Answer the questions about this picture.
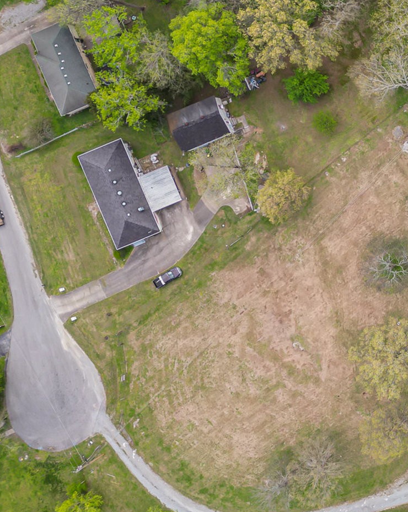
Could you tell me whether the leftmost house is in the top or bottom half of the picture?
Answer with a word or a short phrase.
top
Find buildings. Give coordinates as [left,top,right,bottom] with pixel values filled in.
[167,96,235,151]
[78,139,166,249]
[31,22,100,116]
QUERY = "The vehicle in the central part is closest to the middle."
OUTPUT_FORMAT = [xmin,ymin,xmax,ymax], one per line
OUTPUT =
[151,265,185,289]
